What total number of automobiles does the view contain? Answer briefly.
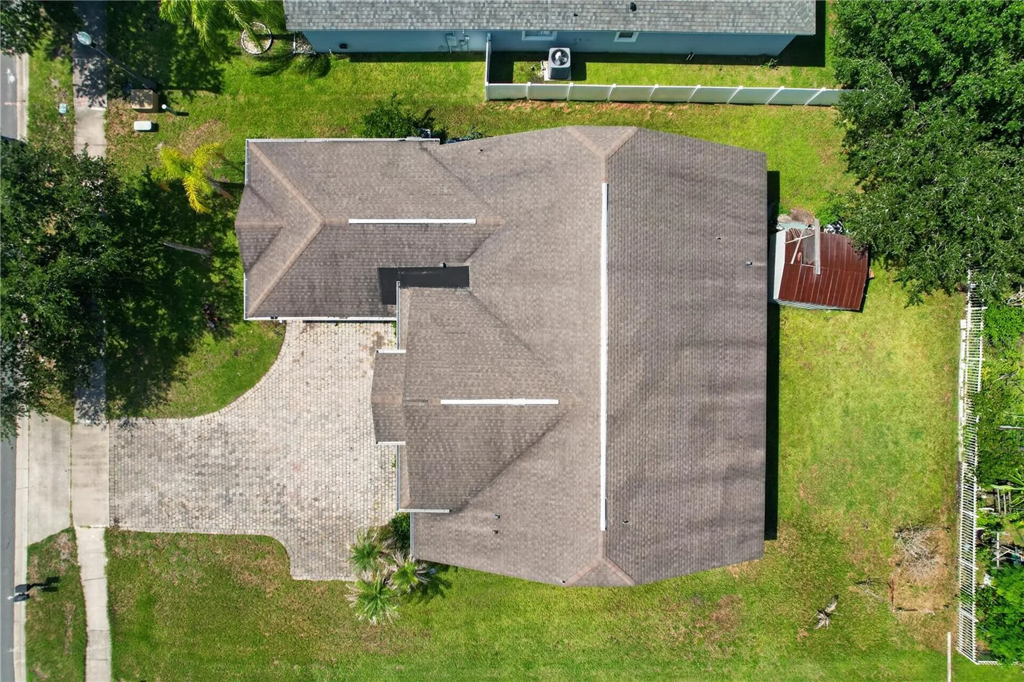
zero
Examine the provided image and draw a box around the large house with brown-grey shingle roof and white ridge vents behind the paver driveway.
[231,123,767,590]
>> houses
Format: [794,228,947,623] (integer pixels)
[231,123,767,590]
[283,0,817,56]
